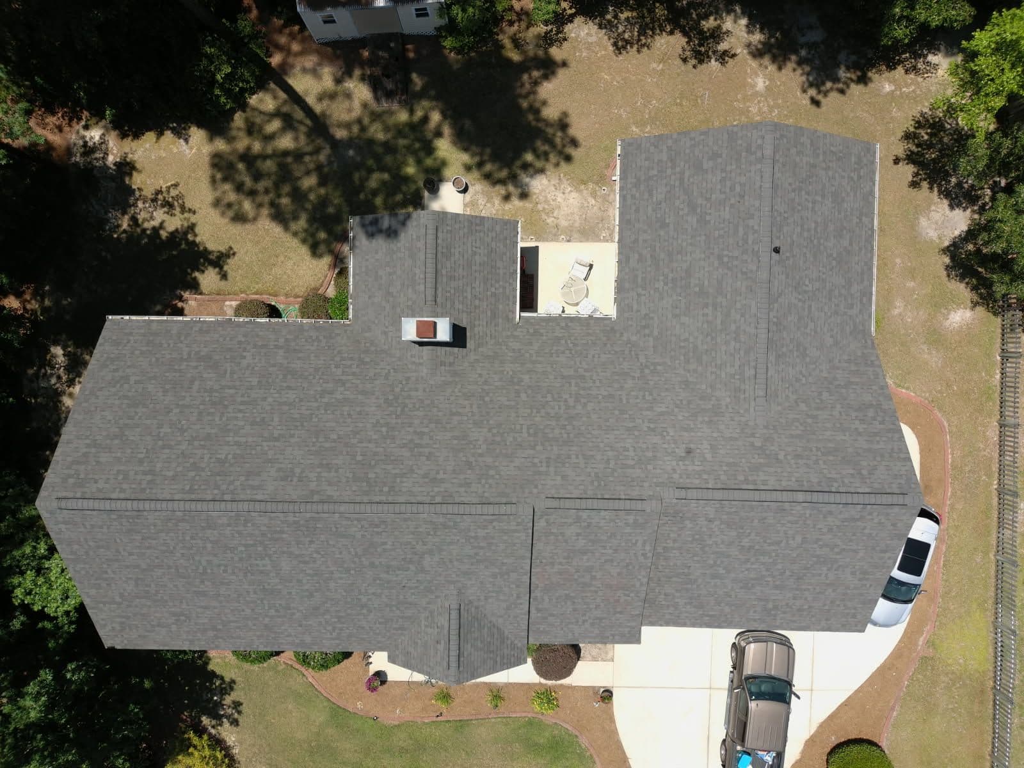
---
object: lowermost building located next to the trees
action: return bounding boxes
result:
[36,121,922,684]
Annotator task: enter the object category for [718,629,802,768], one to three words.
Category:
truck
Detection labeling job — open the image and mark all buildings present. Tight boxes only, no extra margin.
[36,121,922,684]
[291,0,448,44]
